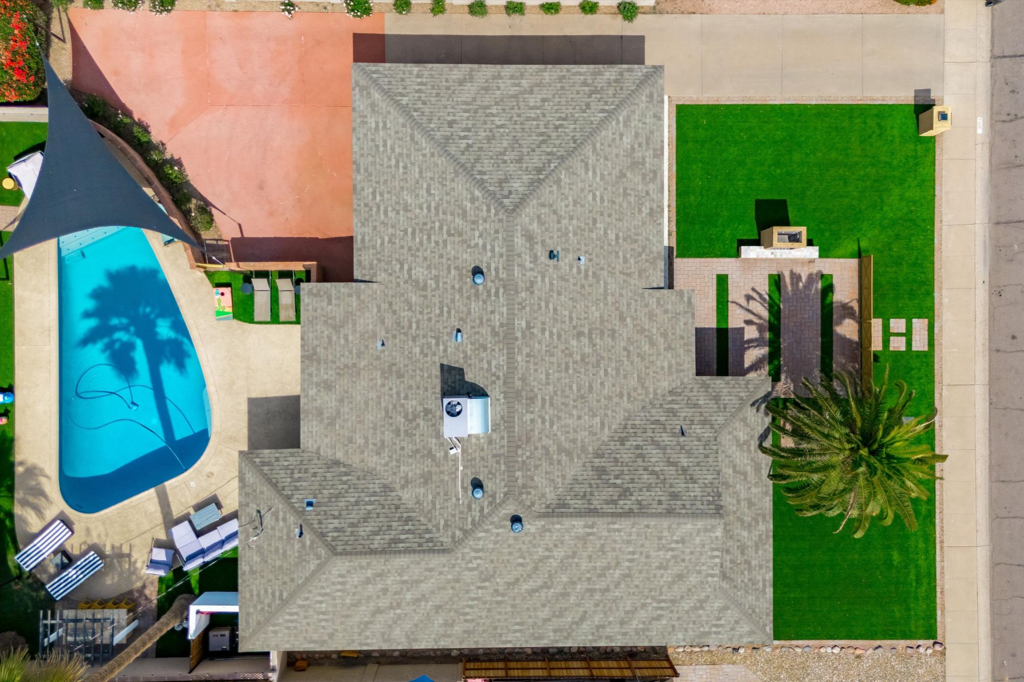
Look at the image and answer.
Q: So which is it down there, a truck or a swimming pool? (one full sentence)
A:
The image shows a swimming pool.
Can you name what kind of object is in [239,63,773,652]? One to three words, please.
house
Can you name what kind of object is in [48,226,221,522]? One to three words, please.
swimming pool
